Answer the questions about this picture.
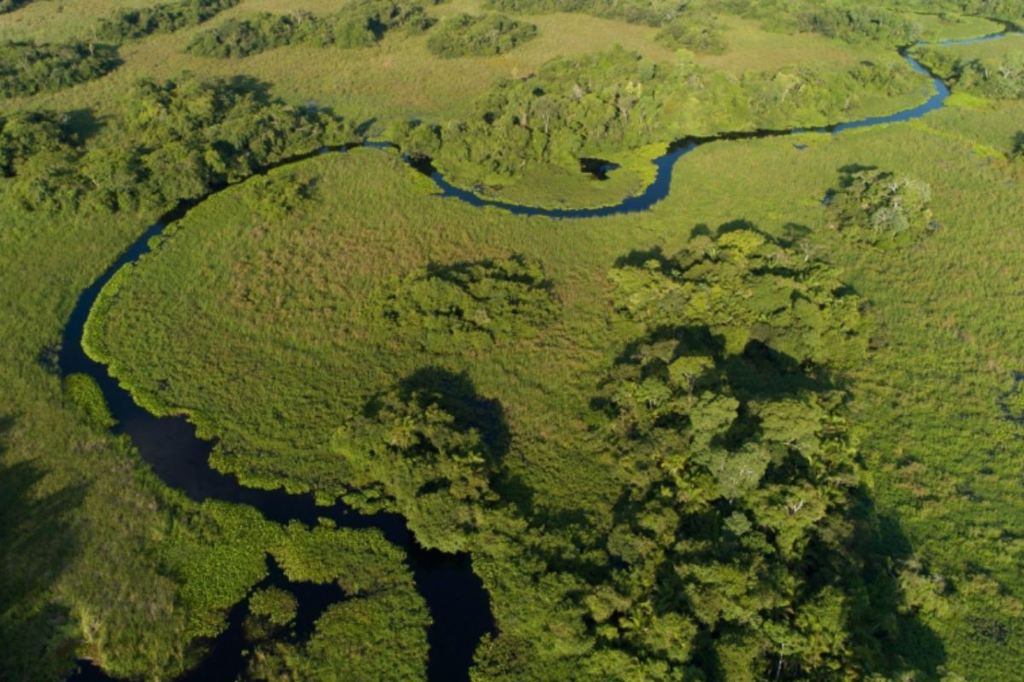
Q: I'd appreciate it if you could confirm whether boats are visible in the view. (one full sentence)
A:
No, I can't see a single boat in this photo.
